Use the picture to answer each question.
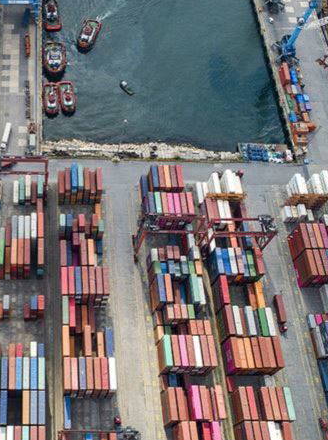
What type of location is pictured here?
port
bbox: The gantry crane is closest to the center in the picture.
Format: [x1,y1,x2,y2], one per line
[132,211,212,258]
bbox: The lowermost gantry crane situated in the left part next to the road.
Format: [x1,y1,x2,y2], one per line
[53,424,151,440]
